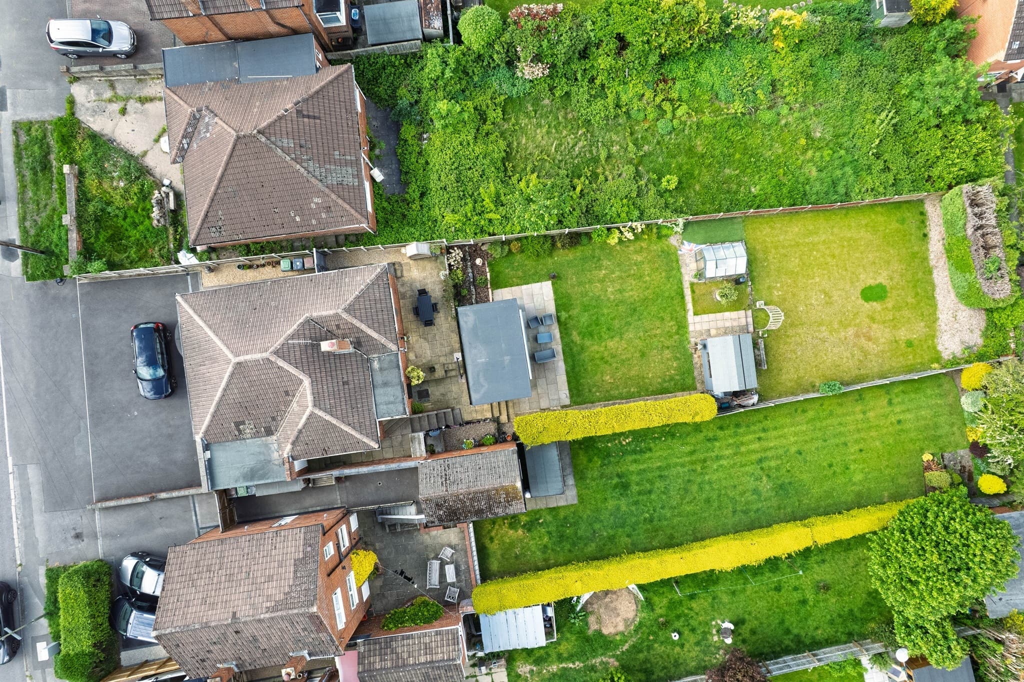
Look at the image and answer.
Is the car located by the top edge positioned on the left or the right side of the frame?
left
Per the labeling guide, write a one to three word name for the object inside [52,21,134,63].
car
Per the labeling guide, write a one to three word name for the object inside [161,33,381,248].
house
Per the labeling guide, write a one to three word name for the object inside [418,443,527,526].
building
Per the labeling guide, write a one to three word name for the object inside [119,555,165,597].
car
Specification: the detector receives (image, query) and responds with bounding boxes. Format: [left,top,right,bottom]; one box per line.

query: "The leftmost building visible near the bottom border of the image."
[151,504,373,682]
